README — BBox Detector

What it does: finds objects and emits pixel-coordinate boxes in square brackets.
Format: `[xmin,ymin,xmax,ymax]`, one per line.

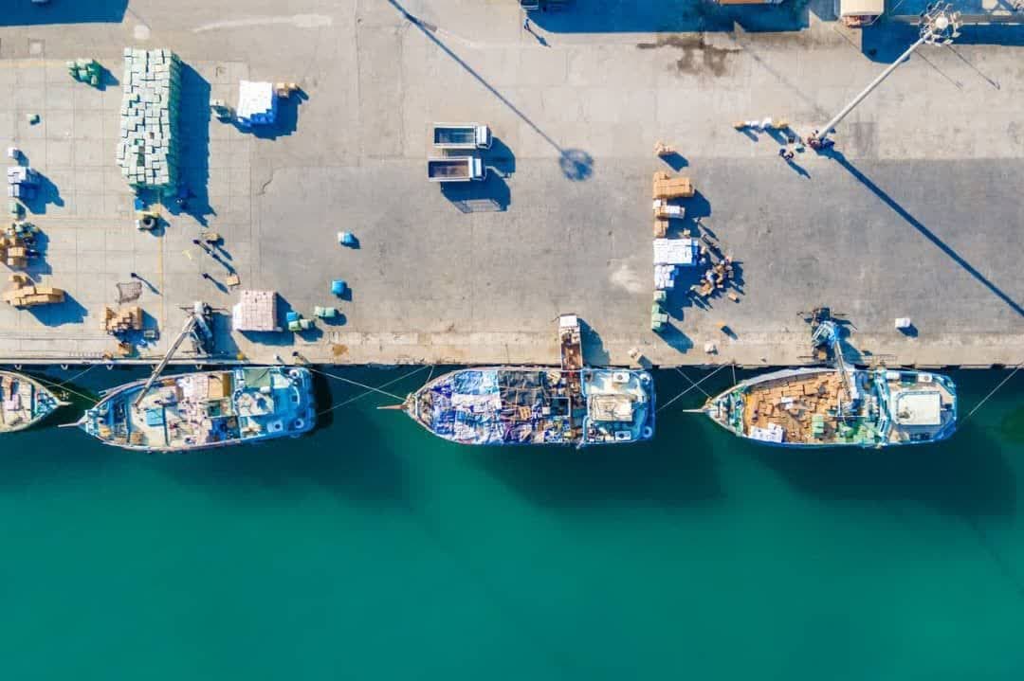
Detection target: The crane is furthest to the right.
[806,303,854,404]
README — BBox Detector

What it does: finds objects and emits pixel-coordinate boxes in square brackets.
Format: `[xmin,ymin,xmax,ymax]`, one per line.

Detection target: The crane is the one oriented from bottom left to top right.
[136,296,226,408]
